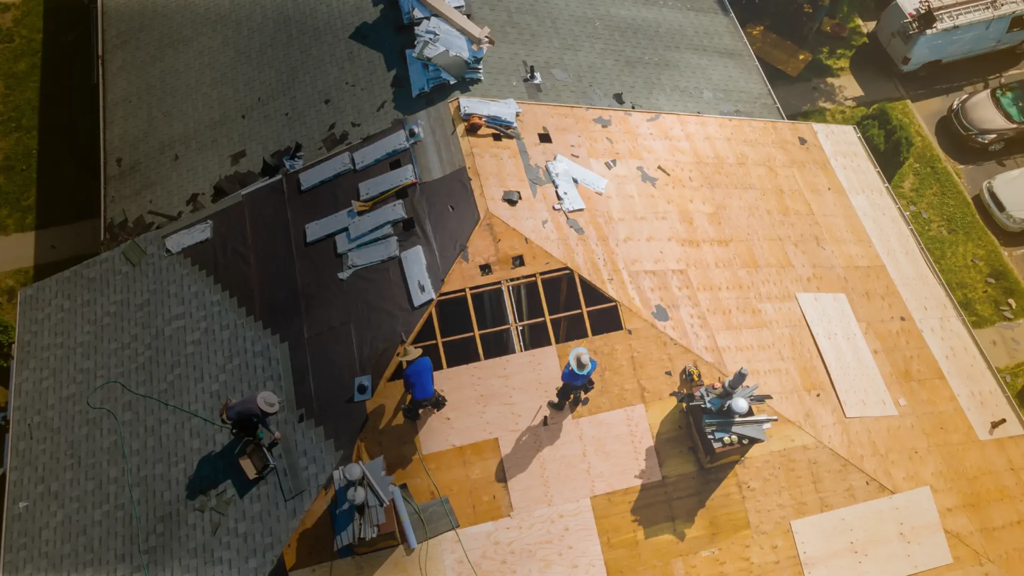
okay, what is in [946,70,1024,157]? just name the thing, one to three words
car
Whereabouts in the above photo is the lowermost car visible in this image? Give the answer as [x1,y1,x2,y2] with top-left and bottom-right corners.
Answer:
[981,169,1024,243]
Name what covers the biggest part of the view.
buildings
